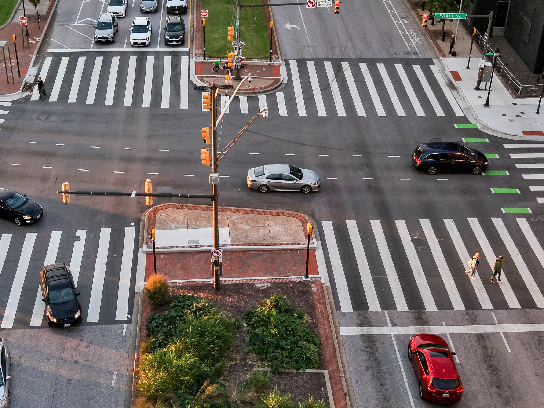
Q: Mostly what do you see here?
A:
paved ground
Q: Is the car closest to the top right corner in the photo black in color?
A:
Yes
